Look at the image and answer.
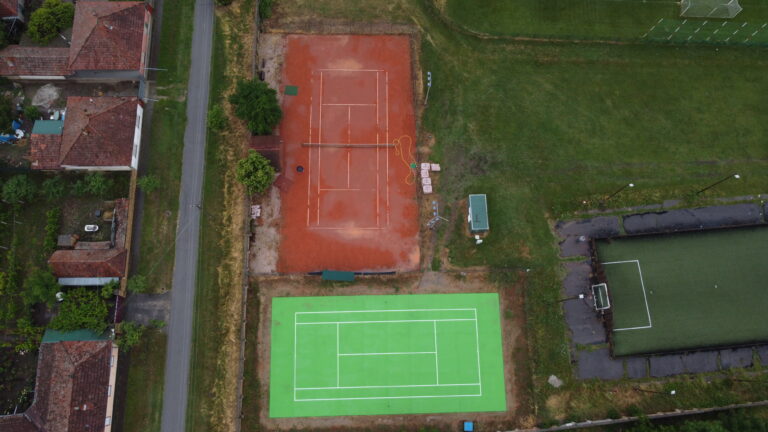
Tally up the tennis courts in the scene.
2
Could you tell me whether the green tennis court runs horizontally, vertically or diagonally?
horizontally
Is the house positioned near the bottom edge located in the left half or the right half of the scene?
left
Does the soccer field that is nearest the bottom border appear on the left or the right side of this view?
right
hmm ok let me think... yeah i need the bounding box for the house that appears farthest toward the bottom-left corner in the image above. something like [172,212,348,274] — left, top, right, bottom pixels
[0,328,118,432]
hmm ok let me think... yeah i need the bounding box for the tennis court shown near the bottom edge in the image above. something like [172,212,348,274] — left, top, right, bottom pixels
[269,292,506,418]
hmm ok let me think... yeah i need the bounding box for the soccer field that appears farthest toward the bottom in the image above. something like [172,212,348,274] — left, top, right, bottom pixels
[591,224,768,356]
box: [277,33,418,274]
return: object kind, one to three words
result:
tennis court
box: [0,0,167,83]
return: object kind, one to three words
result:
house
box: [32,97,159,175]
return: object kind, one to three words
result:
house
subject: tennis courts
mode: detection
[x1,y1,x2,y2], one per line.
[277,33,418,274]
[269,292,506,418]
